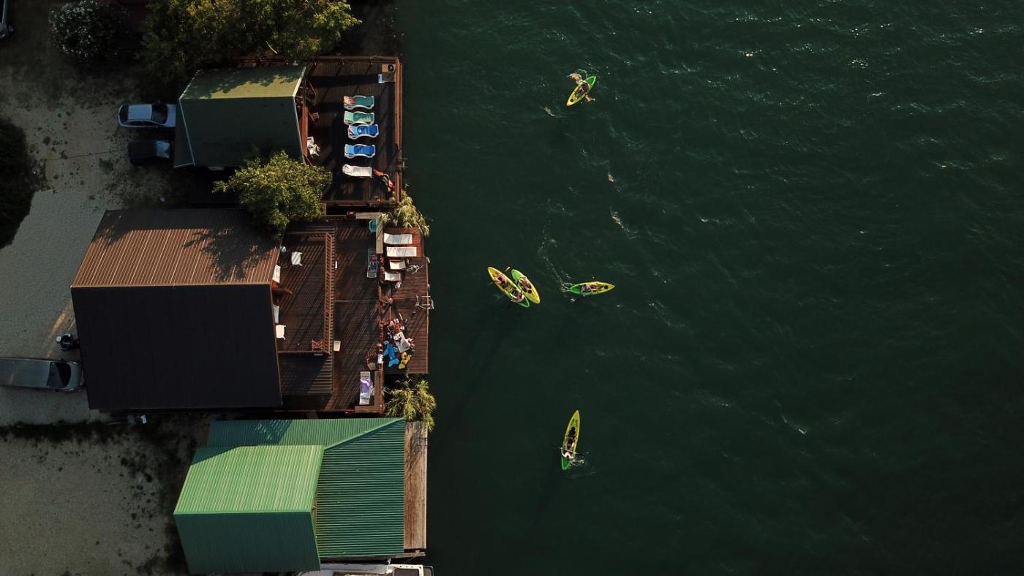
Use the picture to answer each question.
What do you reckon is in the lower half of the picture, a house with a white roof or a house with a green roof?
house with a green roof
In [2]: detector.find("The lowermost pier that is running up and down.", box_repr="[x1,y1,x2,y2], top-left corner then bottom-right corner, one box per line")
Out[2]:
[402,421,428,549]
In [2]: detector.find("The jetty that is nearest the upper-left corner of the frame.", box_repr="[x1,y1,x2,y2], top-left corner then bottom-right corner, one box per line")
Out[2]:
[383,227,425,259]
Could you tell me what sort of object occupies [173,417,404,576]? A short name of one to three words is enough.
house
